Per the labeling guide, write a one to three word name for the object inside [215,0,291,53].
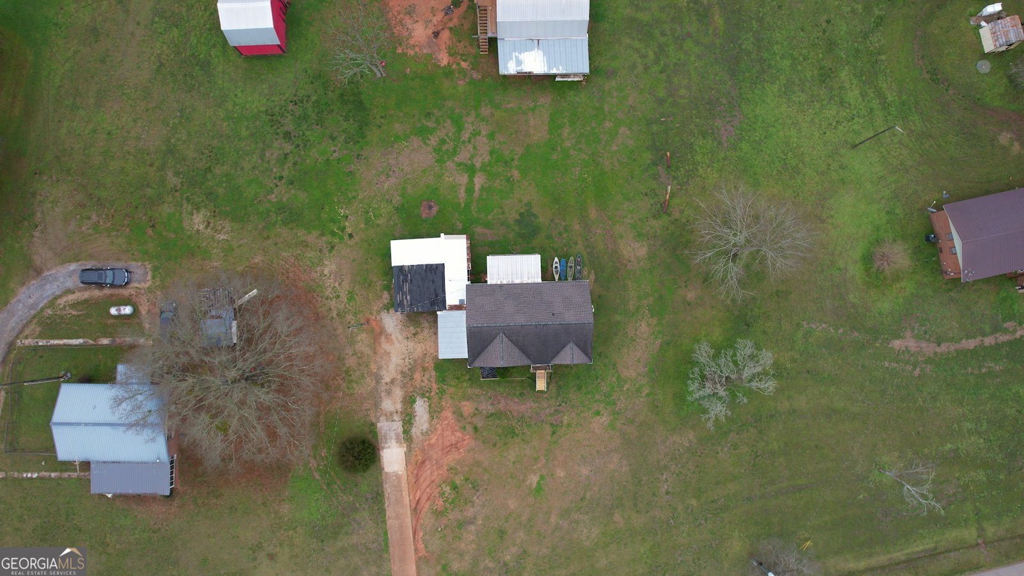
barn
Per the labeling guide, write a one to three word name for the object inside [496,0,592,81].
house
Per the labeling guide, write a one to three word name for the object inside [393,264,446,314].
shed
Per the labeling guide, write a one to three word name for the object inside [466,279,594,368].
house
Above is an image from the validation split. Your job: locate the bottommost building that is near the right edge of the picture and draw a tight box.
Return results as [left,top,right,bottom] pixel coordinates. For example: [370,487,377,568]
[942,190,1024,282]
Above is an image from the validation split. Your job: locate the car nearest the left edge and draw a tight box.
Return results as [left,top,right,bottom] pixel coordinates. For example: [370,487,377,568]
[78,266,133,288]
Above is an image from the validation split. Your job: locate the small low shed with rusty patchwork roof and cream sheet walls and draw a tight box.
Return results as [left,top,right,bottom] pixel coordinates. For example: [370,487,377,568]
[980,15,1024,53]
